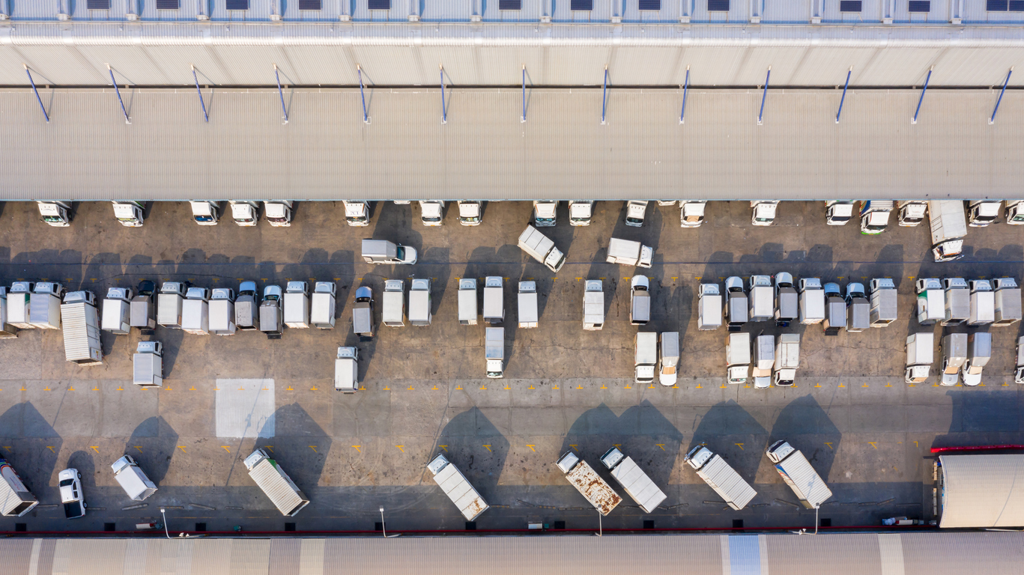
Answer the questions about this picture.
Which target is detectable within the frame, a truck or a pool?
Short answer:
truck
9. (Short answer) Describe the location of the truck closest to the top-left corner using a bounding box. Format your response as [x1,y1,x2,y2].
[38,202,70,228]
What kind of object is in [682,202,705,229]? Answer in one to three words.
truck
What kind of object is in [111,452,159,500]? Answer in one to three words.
truck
